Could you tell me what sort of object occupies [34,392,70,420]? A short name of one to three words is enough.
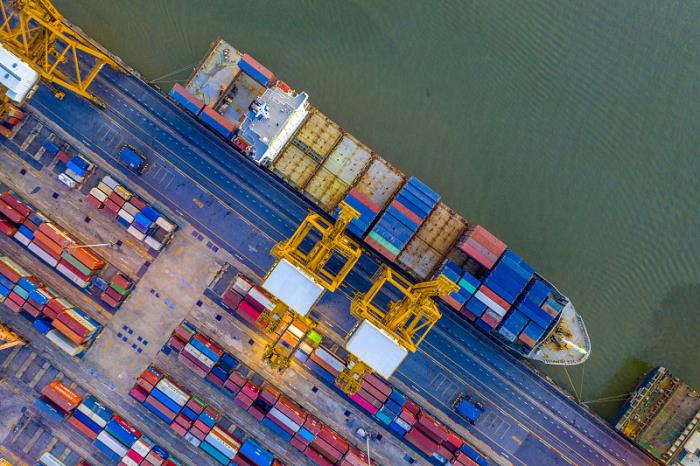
shipping container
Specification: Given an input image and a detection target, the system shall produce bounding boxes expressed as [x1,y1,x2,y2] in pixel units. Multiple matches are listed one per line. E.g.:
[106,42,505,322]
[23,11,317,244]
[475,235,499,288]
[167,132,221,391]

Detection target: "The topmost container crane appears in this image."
[0,0,135,113]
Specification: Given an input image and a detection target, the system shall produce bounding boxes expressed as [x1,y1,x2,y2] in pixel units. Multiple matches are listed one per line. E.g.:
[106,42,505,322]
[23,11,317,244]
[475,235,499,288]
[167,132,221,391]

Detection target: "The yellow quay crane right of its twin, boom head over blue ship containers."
[320,258,464,400]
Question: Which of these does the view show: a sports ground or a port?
port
